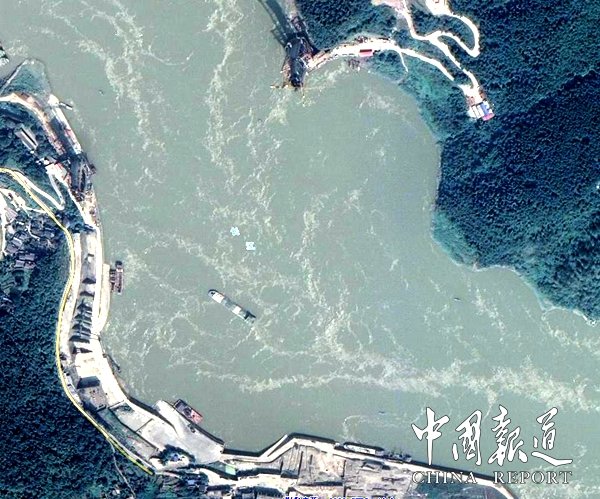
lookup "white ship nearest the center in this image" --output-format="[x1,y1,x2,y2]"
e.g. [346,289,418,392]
[208,289,256,323]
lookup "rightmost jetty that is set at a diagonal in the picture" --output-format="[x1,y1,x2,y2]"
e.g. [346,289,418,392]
[155,400,224,466]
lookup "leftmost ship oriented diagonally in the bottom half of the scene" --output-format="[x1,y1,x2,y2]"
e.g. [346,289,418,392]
[174,397,205,425]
